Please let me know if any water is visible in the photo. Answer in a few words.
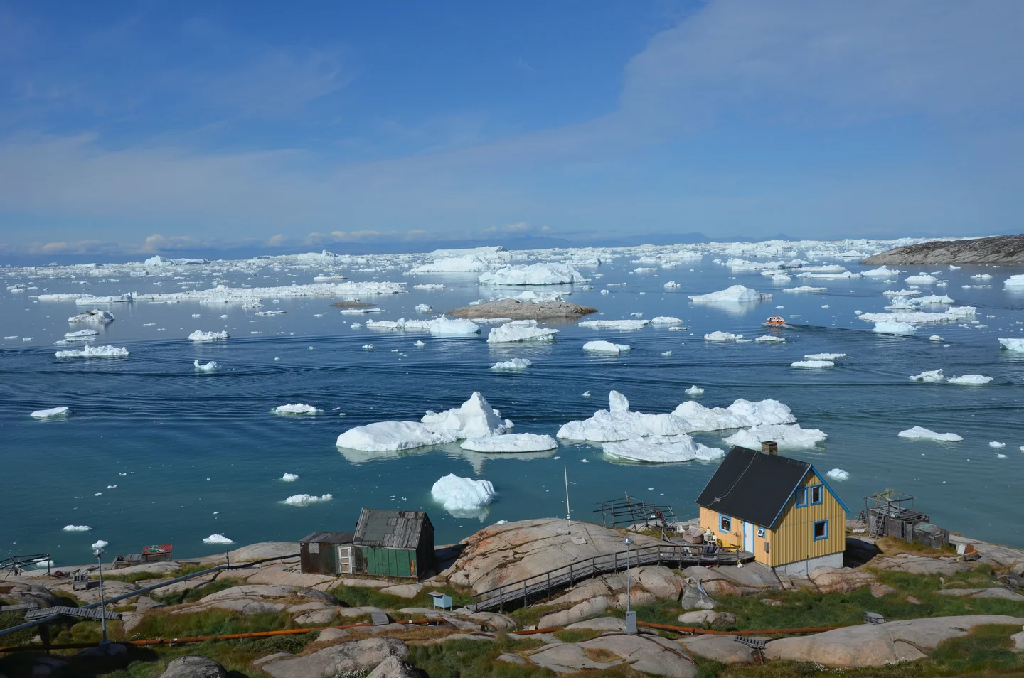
Yes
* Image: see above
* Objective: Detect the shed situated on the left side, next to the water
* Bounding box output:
[297,506,434,580]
